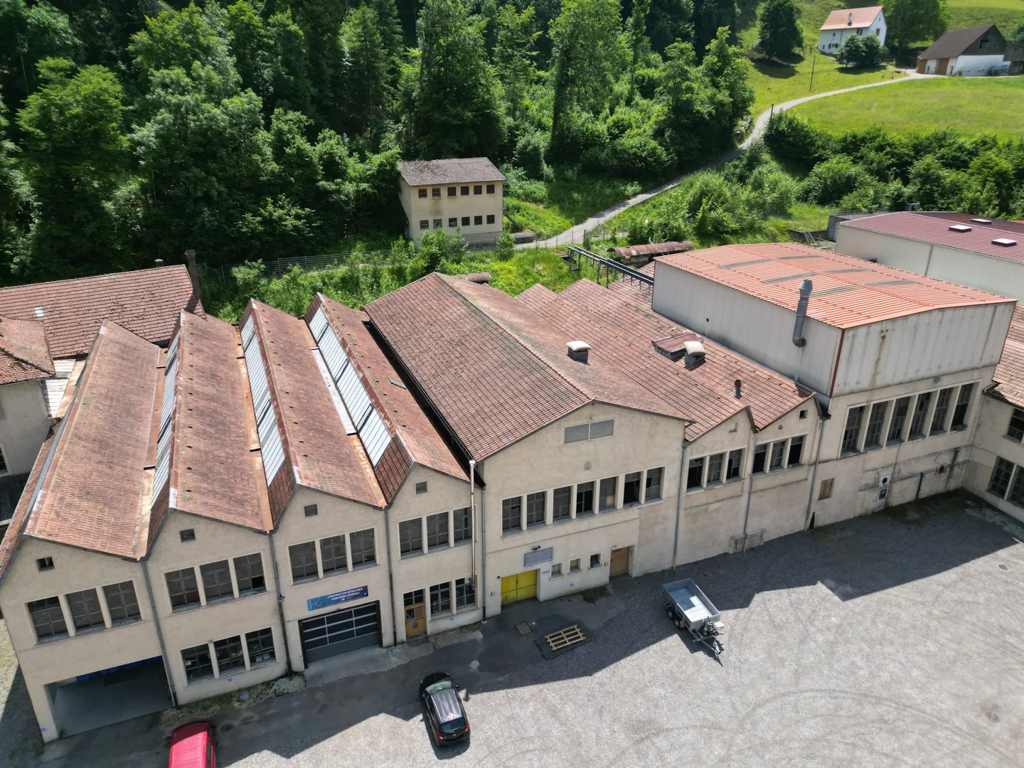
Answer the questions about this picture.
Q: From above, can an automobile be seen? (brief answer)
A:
Yes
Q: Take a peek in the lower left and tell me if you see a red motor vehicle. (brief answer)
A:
Yes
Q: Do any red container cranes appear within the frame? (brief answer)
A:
No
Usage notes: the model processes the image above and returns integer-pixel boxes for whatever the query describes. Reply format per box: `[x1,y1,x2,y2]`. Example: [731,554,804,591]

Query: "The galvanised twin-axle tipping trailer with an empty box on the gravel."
[661,578,727,663]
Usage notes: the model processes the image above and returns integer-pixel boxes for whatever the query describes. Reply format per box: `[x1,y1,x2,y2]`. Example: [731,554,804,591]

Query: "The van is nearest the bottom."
[163,712,220,768]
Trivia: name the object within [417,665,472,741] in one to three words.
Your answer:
car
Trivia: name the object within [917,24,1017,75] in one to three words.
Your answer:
barn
